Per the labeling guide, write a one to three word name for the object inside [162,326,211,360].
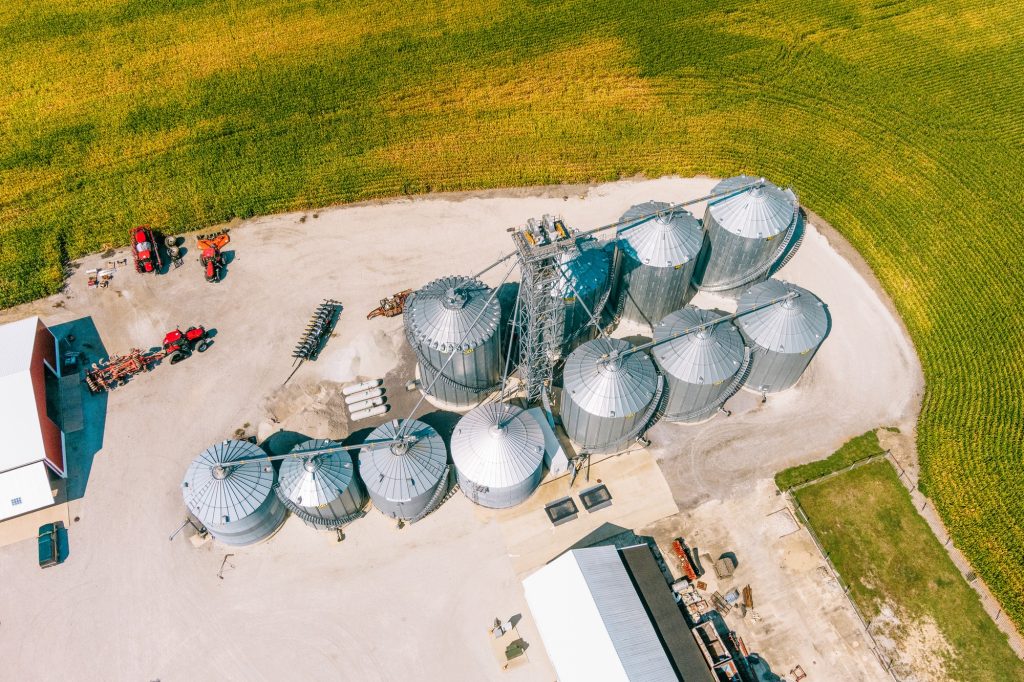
work vehicle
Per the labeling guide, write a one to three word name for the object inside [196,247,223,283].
work vehicle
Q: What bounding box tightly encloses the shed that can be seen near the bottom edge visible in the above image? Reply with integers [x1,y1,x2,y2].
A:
[523,541,714,682]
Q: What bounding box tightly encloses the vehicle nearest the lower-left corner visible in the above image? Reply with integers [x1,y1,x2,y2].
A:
[32,521,62,573]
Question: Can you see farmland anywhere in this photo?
Yes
